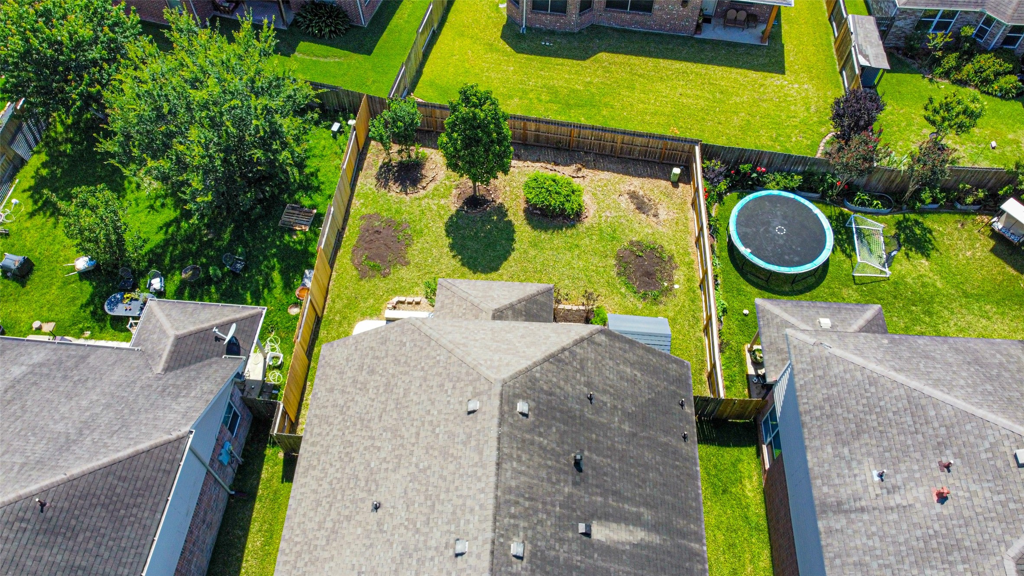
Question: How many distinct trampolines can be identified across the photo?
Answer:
1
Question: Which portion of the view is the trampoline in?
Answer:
right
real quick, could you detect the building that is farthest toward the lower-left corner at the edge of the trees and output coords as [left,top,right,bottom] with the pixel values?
[0,296,271,576]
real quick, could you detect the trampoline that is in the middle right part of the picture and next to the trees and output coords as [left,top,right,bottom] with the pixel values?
[727,193,835,285]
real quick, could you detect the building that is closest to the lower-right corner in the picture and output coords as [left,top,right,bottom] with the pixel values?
[747,298,1024,576]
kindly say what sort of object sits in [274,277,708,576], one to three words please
house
